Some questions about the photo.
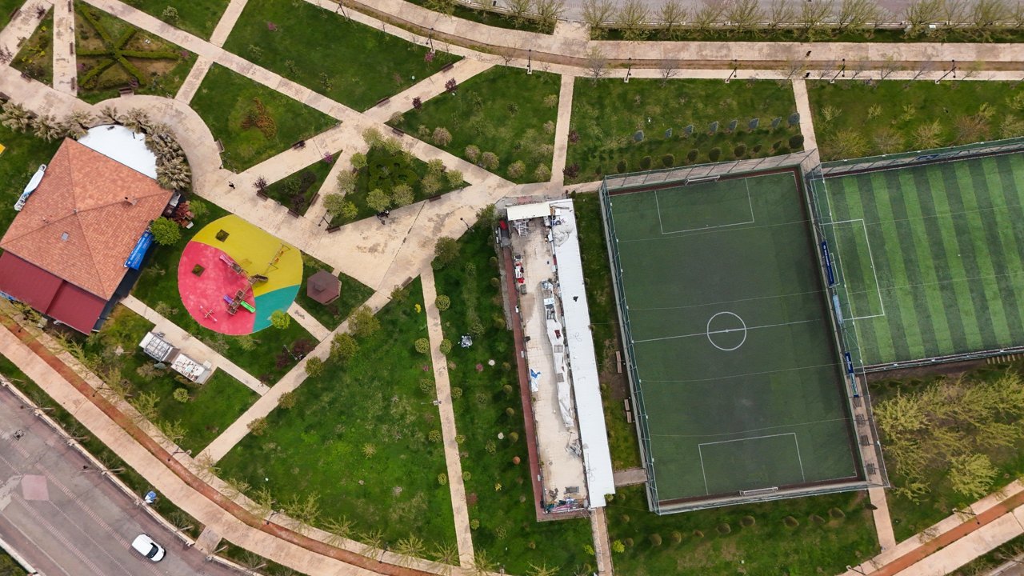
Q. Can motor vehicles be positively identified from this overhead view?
Yes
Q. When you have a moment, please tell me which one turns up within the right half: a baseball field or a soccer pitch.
soccer pitch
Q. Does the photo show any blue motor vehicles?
No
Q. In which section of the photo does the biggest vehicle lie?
bottom left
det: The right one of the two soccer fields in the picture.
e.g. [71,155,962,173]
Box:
[806,141,1024,377]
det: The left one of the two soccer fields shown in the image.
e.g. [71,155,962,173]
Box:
[602,165,865,507]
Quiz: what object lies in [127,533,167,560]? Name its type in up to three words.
vehicle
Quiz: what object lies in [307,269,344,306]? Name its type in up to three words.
building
